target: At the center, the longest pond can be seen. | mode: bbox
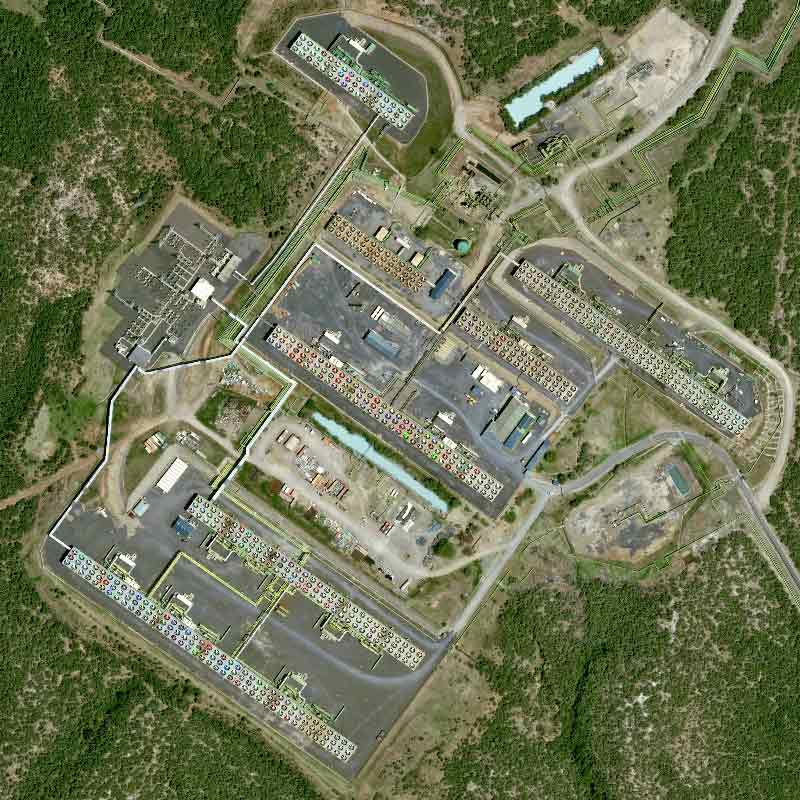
[311,409,449,515]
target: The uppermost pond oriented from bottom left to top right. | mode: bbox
[504,44,602,130]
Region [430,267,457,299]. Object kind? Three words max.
building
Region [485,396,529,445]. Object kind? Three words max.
building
